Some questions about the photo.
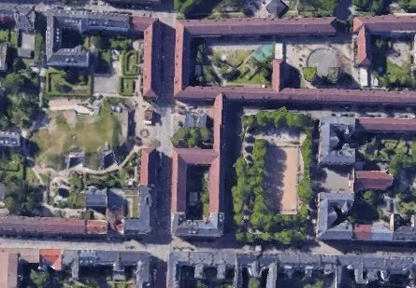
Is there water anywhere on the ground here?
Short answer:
No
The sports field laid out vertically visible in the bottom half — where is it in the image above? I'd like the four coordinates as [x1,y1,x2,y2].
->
[266,144,300,215]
